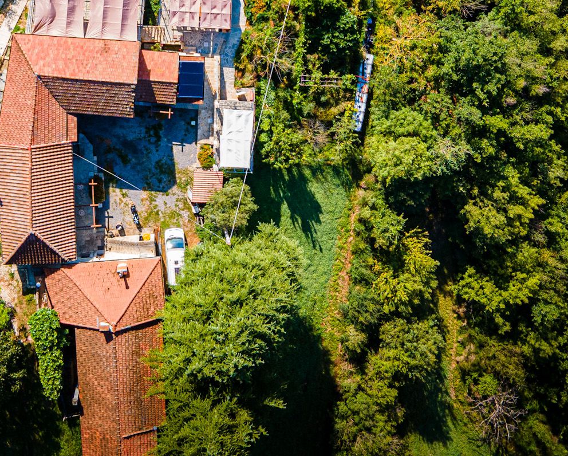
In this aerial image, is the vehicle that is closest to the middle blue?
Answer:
No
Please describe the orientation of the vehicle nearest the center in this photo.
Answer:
up and down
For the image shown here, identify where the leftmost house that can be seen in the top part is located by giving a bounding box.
[0,32,141,265]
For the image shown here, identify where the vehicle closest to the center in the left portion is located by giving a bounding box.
[163,226,188,291]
